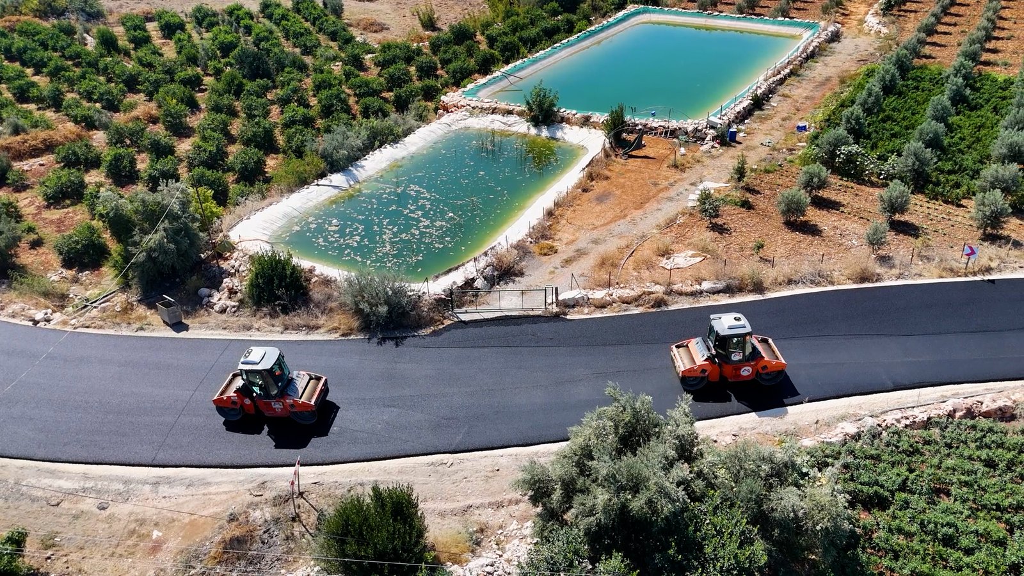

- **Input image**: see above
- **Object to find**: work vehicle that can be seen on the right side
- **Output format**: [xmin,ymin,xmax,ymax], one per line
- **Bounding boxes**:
[665,313,787,393]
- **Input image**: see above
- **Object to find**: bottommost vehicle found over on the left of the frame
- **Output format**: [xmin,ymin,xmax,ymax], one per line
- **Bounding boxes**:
[208,346,329,422]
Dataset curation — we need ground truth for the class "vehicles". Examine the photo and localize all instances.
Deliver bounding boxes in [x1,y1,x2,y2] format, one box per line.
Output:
[208,346,329,422]
[665,313,787,393]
